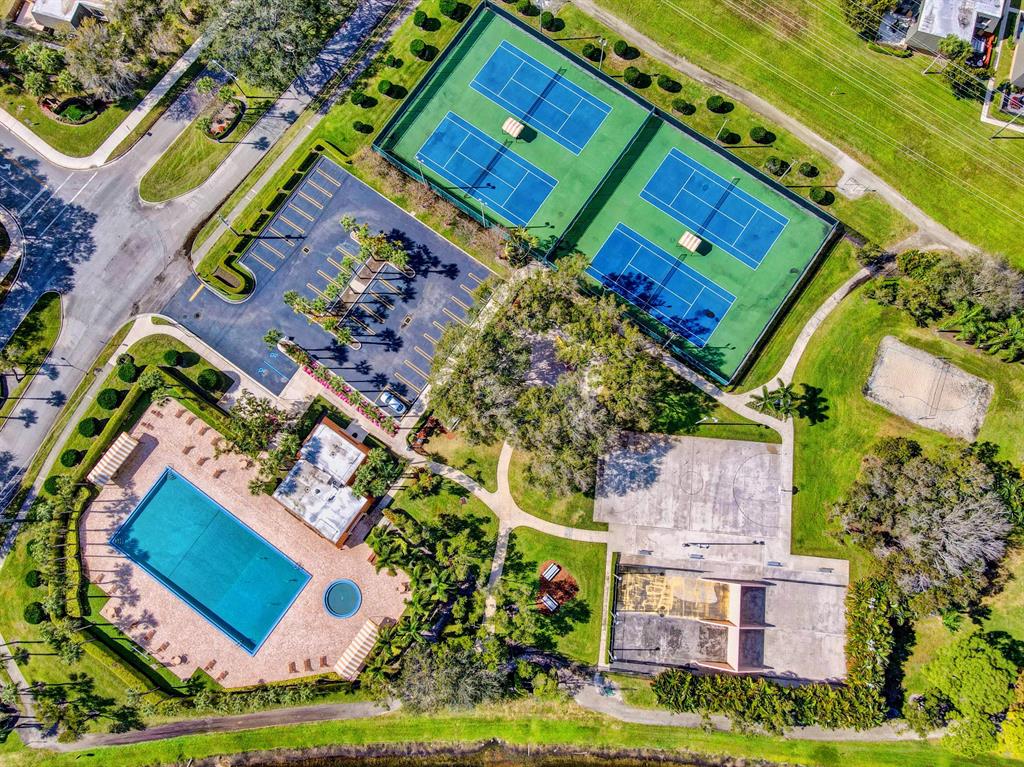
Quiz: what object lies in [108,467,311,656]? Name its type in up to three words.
swimming pool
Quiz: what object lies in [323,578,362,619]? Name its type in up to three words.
swimming pool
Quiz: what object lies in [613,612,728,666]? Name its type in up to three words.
sports court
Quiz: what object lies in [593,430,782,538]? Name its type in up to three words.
basketball court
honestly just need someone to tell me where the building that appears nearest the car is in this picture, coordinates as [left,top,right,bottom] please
[272,418,373,548]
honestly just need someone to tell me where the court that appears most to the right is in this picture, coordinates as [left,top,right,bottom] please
[869,346,983,428]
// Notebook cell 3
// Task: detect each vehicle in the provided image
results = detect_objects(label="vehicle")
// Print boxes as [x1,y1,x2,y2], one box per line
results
[380,392,407,415]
